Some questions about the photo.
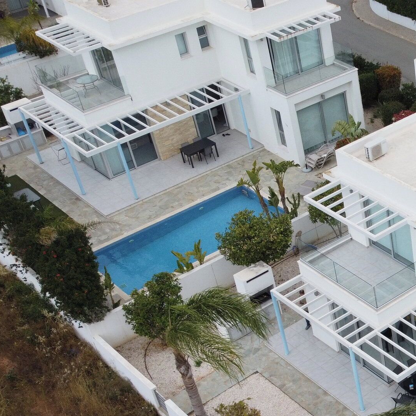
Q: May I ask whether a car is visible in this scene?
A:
No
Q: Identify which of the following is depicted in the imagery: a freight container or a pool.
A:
pool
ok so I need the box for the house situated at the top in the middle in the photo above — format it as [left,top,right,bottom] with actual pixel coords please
[22,0,360,200]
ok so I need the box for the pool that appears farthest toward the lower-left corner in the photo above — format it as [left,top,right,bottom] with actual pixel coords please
[100,173,296,290]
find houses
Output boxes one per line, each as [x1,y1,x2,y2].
[22,0,360,200]
[273,110,416,413]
